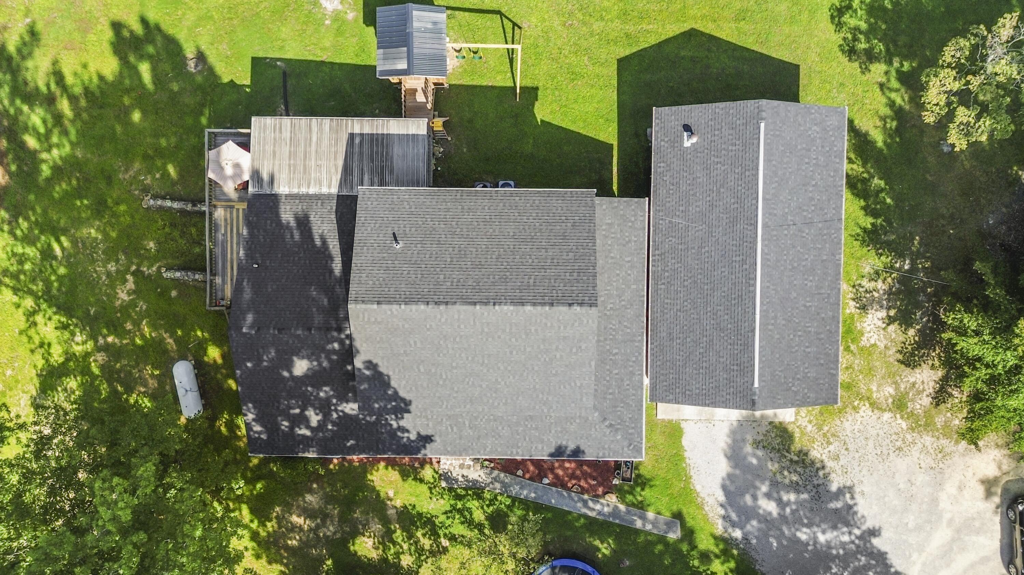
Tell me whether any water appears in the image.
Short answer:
No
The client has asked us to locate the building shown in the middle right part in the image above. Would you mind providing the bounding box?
[644,100,849,413]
